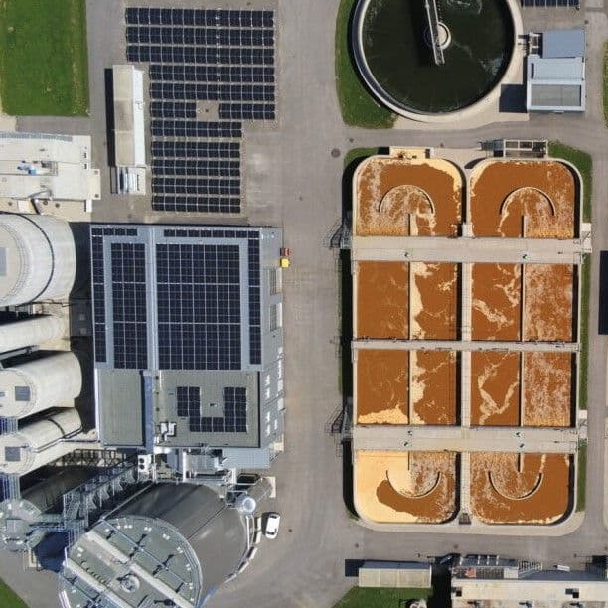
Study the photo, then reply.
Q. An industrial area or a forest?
industrial area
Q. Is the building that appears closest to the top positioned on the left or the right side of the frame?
right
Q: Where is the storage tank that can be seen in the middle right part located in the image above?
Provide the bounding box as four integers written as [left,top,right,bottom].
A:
[351,140,591,525]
